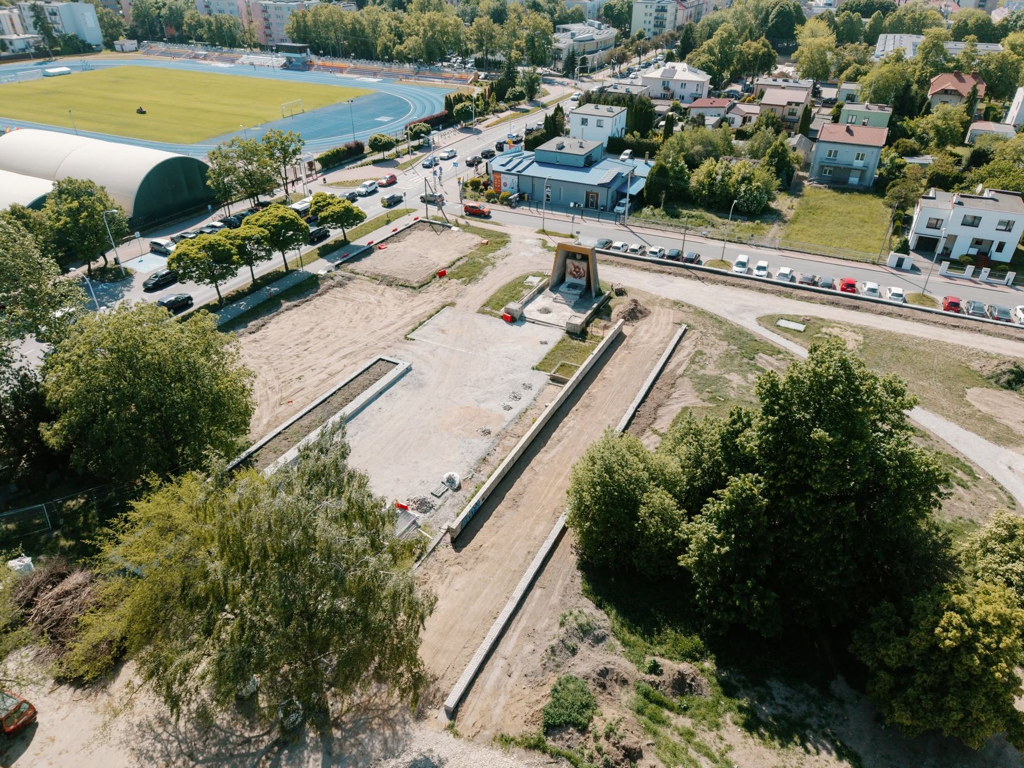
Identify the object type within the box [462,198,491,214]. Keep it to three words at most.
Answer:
car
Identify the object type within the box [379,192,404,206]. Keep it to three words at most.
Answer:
car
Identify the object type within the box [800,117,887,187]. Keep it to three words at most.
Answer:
house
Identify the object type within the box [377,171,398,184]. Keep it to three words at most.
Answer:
vehicle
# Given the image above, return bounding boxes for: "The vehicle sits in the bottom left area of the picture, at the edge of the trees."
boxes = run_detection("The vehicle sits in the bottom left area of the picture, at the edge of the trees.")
[0,673,35,741]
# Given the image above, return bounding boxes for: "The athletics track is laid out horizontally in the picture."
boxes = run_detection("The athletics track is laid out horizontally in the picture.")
[0,67,405,146]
